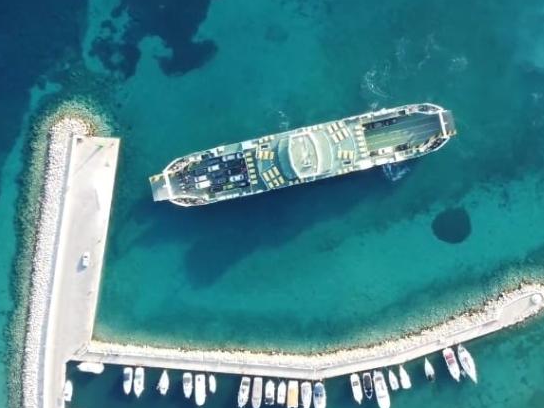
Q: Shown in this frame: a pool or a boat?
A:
boat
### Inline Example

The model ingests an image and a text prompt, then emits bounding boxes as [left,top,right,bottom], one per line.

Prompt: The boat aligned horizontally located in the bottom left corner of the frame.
[78,361,105,373]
